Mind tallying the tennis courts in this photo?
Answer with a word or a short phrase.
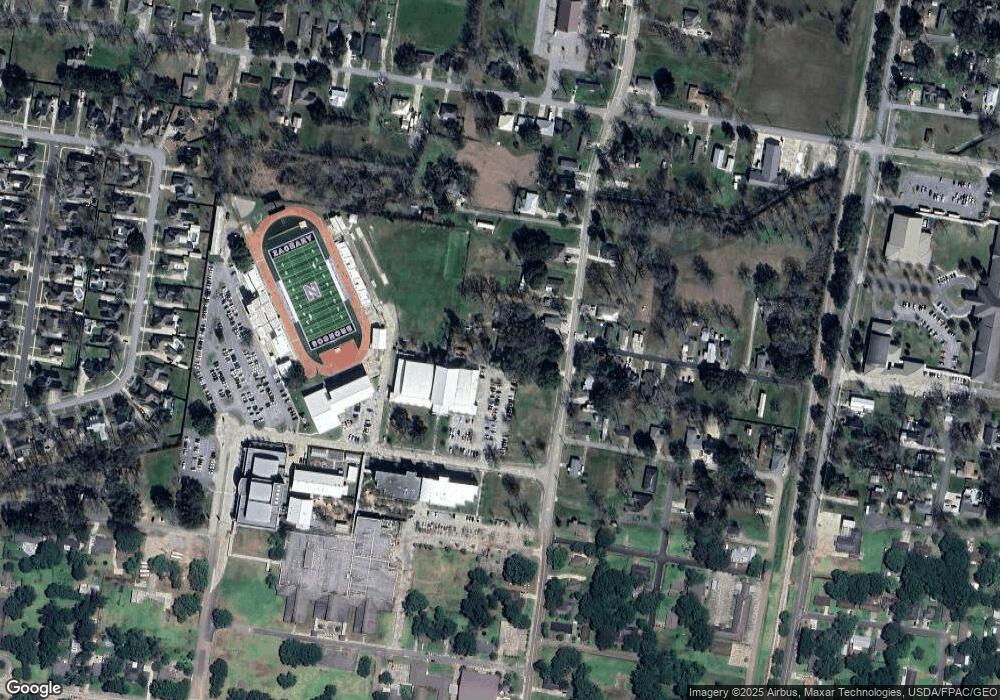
0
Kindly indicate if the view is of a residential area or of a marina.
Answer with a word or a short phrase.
residential area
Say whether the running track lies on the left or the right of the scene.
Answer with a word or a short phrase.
left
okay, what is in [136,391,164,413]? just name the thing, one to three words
house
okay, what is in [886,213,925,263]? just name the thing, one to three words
building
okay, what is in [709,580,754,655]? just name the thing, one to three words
building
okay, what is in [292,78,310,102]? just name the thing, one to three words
house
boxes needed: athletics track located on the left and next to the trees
[243,206,372,380]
